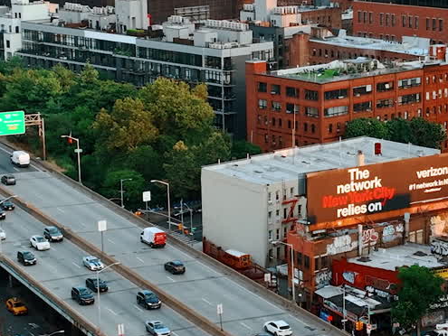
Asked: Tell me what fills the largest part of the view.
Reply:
buildings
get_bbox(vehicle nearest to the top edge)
[9,147,28,164]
